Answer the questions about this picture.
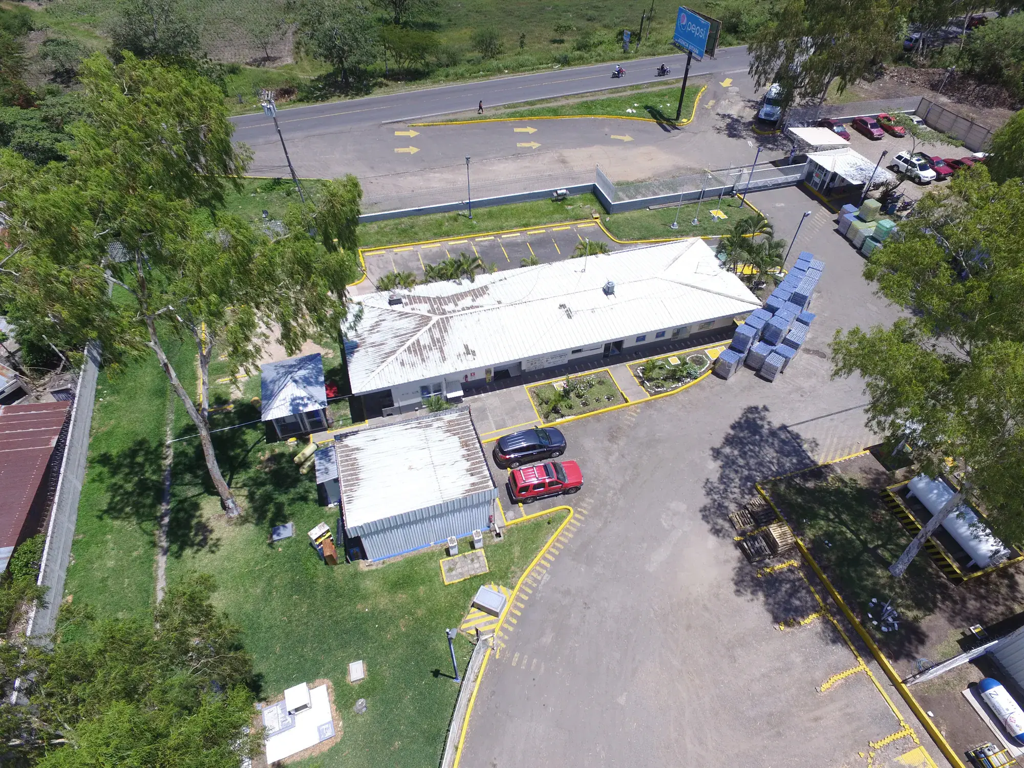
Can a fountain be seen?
No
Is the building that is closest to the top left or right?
right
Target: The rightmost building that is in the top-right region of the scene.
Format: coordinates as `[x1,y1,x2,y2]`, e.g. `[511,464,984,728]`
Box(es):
[798,147,895,215]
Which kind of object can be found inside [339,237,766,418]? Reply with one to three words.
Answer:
building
